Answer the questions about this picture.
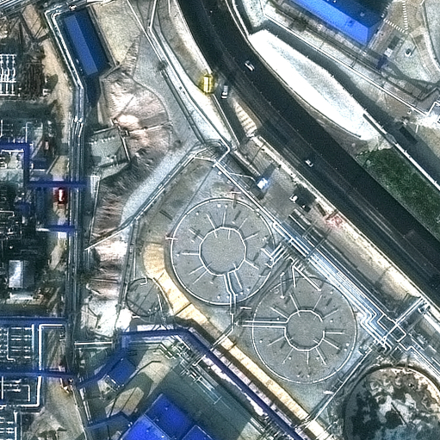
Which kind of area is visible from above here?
industrial area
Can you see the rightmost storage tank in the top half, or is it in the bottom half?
bottom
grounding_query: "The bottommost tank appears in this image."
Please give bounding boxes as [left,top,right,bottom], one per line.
[342,365,440,440]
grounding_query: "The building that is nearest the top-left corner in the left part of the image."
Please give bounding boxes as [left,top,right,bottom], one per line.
[63,9,112,75]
